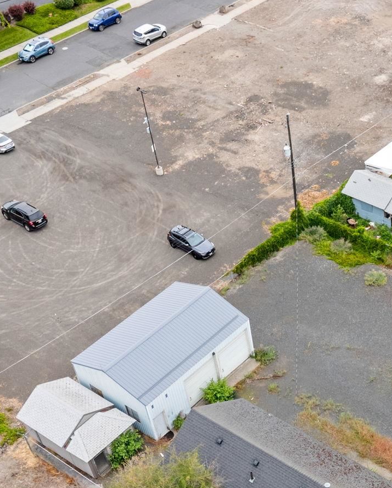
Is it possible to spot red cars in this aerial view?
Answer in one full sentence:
No, the scene contains no red car.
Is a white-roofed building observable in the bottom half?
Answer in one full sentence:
Yes, a white-roofed building can be seen in the bottom half.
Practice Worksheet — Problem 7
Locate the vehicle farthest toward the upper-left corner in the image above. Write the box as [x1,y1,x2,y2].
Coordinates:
[13,35,56,63]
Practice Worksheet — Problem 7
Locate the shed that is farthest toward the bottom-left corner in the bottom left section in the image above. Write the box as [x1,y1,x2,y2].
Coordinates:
[16,377,139,484]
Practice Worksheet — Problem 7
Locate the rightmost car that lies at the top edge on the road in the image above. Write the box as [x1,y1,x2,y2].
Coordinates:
[130,23,169,45]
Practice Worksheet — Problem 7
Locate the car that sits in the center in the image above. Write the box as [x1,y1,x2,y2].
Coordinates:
[163,221,219,259]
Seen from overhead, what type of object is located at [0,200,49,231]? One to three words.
car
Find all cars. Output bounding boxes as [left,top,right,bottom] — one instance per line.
[0,133,15,153]
[130,23,169,45]
[0,200,49,231]
[163,221,219,259]
[13,35,56,63]
[83,5,123,31]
